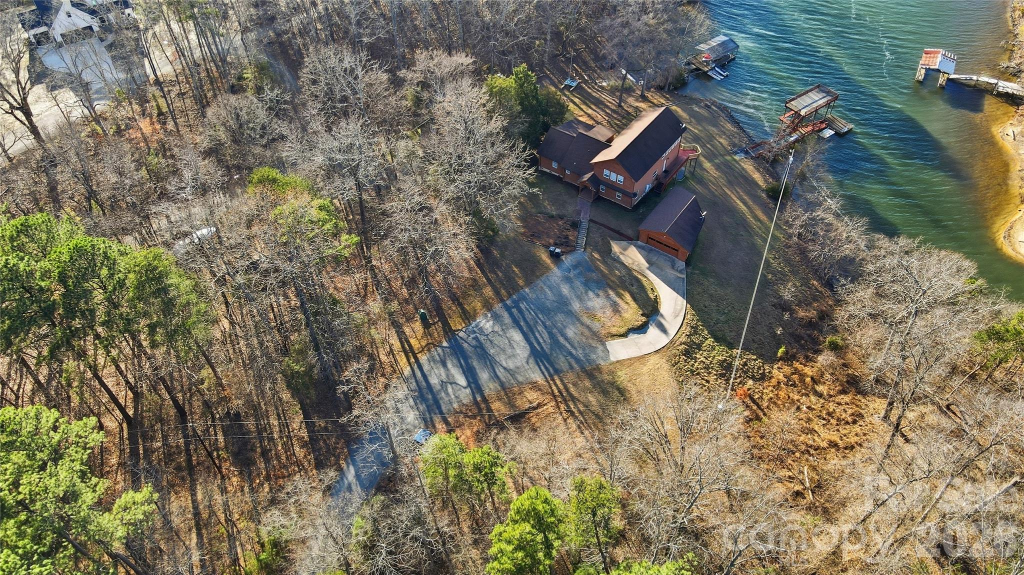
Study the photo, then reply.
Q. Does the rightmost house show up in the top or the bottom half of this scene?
top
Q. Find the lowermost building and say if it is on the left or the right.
right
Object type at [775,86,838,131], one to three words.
pier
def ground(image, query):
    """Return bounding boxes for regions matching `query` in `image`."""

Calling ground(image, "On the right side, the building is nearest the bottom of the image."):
[638,192,721,263]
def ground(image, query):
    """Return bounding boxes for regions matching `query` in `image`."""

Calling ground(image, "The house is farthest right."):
[915,48,958,87]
